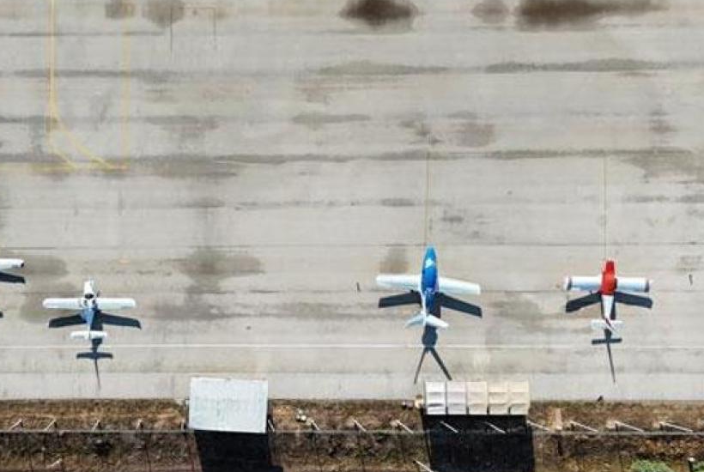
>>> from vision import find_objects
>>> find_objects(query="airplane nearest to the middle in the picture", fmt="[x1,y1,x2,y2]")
[378,247,481,330]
